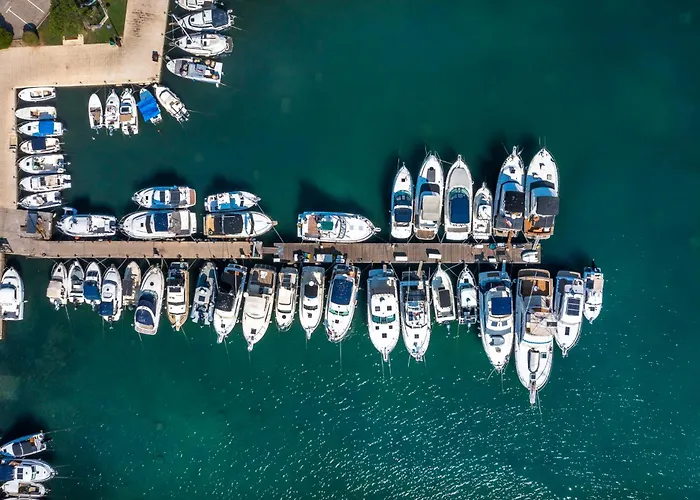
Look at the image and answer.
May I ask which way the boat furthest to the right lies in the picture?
from top to bottom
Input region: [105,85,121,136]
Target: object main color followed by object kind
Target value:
white boat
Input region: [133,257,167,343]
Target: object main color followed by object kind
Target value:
white boat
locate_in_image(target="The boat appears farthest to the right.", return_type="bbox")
[582,260,605,322]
